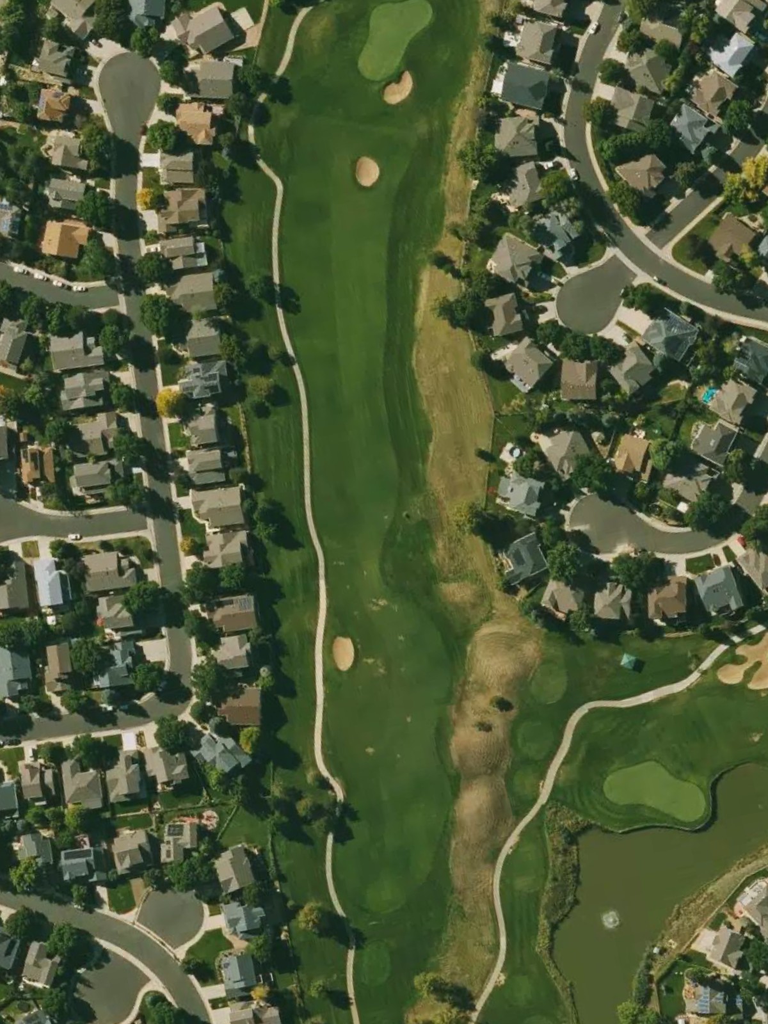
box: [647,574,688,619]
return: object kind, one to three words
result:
house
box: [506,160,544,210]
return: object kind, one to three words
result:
house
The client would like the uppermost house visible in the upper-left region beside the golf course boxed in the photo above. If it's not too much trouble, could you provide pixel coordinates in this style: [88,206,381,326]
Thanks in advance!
[169,6,235,53]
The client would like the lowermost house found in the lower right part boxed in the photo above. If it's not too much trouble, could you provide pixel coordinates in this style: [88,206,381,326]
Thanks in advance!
[687,986,727,1016]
